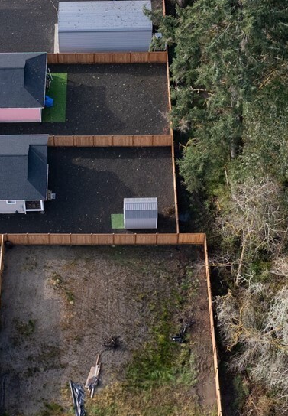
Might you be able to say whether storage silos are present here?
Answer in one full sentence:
No, no storage silo is visible in the scene.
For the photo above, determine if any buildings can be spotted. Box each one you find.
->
[0,135,49,212]
[57,0,151,51]
[0,53,48,122]
[123,201,158,228]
